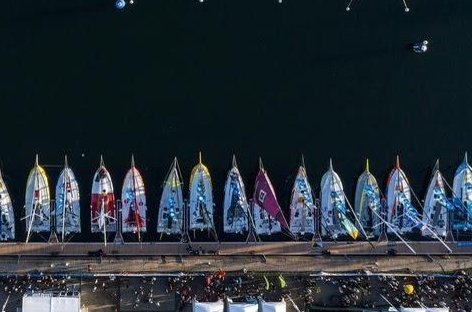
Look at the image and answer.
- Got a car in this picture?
No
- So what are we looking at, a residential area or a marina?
marina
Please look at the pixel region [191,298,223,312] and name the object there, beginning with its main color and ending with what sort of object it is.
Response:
white tent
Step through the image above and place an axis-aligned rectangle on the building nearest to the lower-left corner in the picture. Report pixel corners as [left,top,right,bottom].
[23,285,80,312]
